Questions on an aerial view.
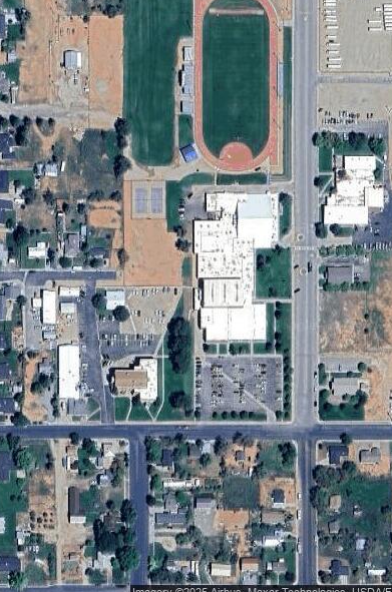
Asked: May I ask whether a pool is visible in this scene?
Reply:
No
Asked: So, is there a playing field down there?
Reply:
Yes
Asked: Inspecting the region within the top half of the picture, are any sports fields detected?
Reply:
Yes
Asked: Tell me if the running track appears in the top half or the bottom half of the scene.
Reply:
top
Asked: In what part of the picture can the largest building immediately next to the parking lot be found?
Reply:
center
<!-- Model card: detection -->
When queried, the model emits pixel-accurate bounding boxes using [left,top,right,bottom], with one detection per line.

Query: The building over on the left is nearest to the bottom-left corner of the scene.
[0,557,22,571]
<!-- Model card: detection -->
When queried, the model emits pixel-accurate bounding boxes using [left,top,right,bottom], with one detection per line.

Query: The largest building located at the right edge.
[324,156,384,224]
